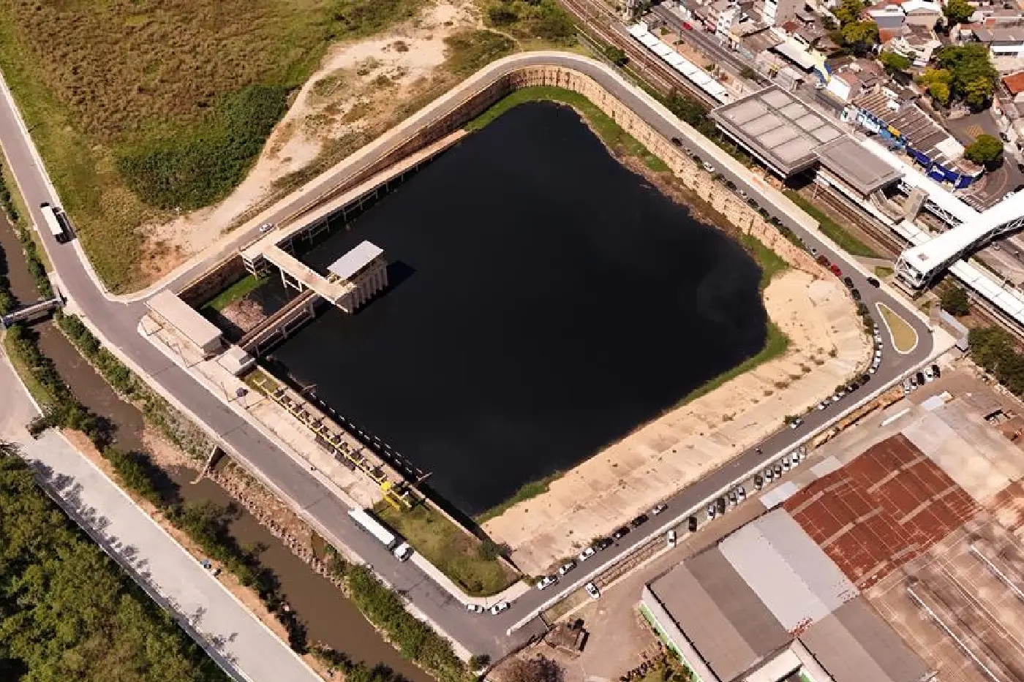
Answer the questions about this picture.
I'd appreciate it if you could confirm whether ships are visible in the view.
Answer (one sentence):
No, I can't see a single ship in this photo.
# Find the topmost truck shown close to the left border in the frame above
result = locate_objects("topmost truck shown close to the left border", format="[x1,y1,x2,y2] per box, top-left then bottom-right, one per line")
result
[40,206,65,241]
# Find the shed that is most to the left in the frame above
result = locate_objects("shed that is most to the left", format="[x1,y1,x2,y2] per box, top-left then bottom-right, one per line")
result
[144,289,222,358]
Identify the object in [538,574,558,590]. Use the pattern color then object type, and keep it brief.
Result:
white car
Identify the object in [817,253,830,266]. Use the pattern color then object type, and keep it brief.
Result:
red vehicle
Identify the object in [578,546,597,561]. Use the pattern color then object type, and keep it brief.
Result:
white car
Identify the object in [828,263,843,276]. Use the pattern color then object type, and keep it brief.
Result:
red vehicle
